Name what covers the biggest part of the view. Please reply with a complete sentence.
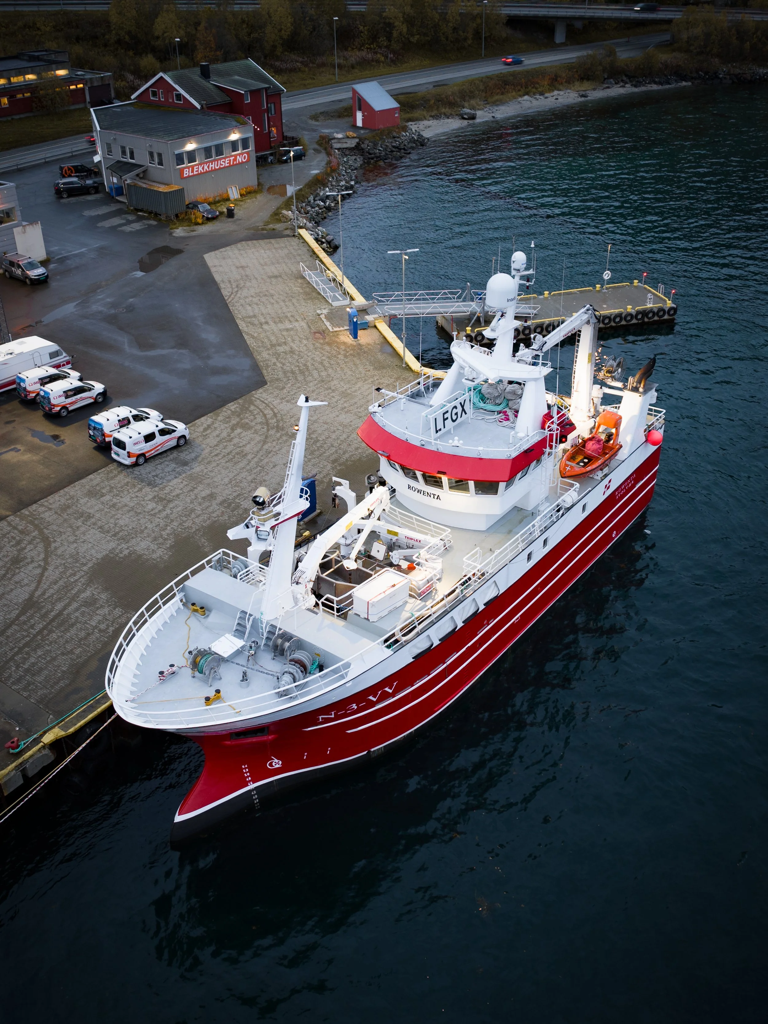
Most of the picture is covered by water.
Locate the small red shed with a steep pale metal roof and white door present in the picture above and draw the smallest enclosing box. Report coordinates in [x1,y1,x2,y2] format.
[354,80,400,130]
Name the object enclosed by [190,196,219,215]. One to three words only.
car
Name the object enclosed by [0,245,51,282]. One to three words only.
van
